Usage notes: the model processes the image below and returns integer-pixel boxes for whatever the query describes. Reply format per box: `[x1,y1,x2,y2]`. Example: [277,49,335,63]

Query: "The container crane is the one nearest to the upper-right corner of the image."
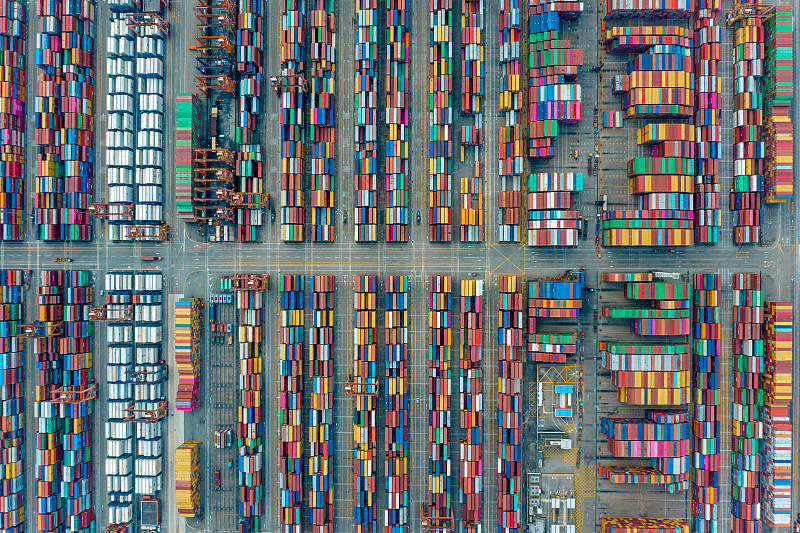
[727,4,777,30]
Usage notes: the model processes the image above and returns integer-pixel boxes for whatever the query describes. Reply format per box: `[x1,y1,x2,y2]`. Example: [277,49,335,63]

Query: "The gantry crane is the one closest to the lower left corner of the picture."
[48,383,98,404]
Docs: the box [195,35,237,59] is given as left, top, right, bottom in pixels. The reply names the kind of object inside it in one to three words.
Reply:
container crane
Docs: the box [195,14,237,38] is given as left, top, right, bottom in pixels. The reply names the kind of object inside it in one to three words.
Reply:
container crane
